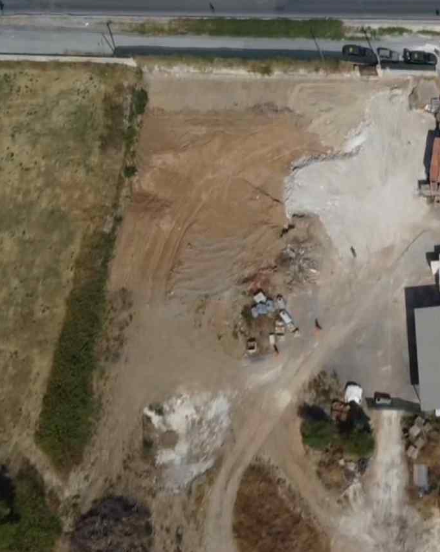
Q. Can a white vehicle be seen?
Yes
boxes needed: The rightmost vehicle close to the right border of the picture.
[405,49,438,65]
